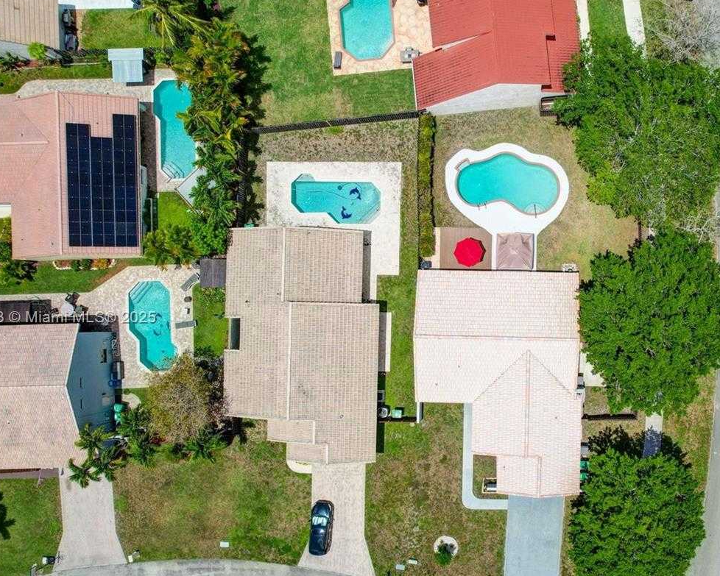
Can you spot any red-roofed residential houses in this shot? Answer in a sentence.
Yes, you can see a red-roofed residential house in this photo.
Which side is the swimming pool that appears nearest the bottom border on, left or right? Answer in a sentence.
The swimming pool that appears nearest the bottom border sits on the left side.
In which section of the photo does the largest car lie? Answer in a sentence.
The largest car sits in the bottom section of the image.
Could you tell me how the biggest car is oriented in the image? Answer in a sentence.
The biggest car is laid out from top to bottom.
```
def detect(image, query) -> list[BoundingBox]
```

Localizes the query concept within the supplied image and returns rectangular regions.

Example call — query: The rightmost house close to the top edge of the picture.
[413,0,580,114]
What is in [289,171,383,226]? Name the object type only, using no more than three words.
swimming pool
